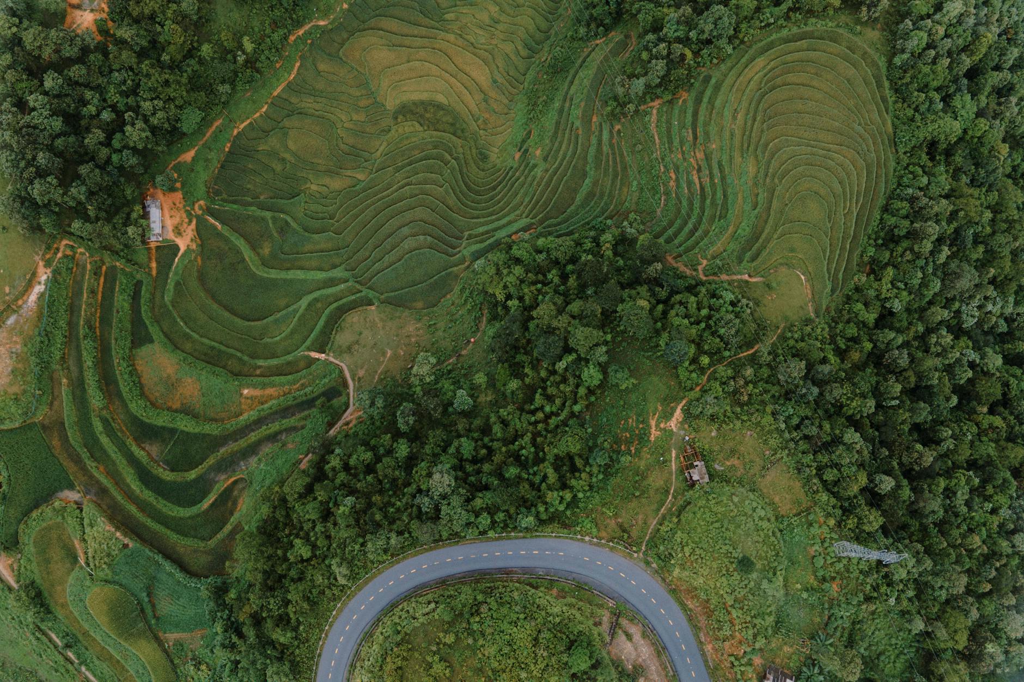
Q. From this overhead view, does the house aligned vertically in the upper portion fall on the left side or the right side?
left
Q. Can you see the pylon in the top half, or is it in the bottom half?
bottom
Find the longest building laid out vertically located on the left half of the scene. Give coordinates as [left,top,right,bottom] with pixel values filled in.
[145,200,167,243]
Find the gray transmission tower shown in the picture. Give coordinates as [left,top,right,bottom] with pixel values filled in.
[831,541,906,563]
